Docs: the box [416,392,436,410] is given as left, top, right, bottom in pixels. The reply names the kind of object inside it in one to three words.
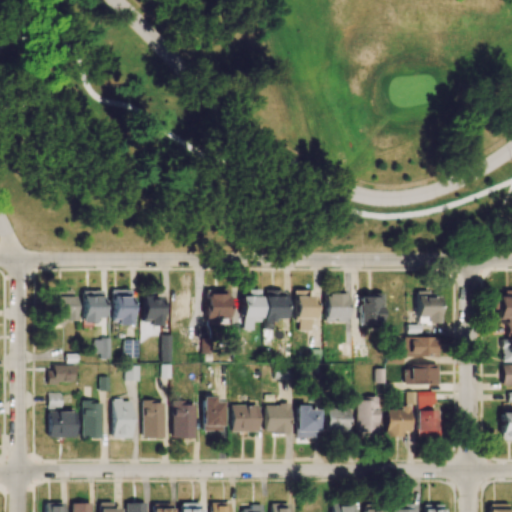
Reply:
building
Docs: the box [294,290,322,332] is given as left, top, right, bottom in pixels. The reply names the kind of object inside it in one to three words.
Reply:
house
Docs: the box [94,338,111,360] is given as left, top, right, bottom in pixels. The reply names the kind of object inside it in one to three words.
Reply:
building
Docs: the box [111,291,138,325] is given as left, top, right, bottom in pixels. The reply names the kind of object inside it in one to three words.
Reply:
house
